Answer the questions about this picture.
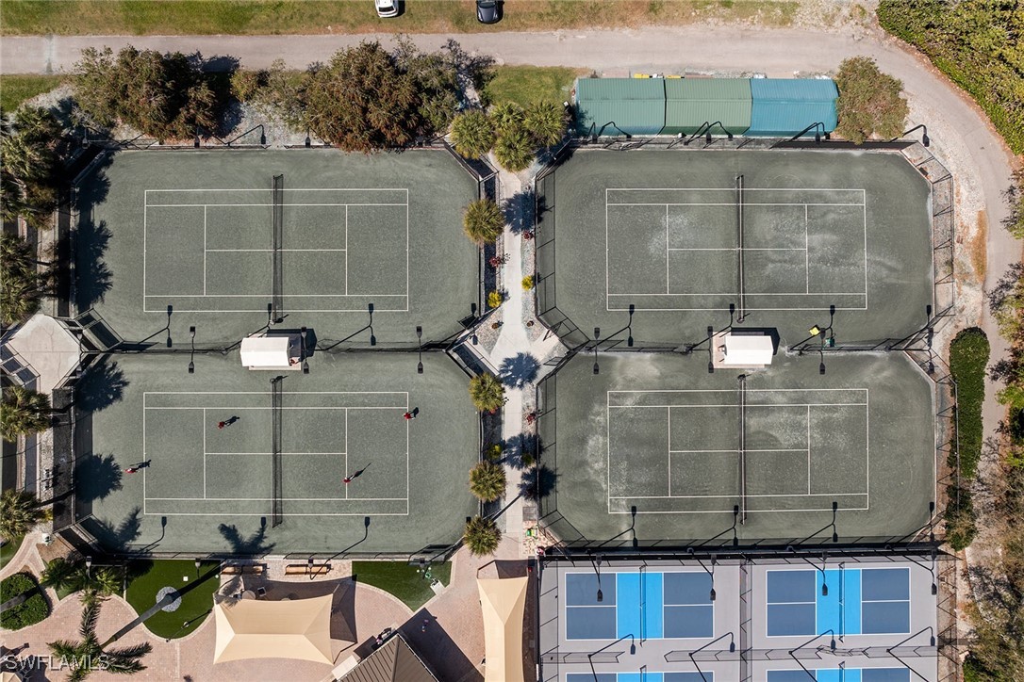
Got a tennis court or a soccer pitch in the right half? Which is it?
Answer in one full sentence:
The one visible in the right half is a tennis court.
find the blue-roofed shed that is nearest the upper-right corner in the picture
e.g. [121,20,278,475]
[742,79,842,135]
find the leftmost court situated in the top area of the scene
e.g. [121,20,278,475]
[72,147,480,352]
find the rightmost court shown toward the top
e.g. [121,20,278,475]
[537,147,937,350]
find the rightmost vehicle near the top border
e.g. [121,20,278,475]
[477,0,502,24]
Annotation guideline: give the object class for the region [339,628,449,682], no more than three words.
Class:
building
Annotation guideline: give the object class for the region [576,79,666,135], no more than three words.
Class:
shed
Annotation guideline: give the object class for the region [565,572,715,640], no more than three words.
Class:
sports court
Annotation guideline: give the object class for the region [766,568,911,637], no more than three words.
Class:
sports court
